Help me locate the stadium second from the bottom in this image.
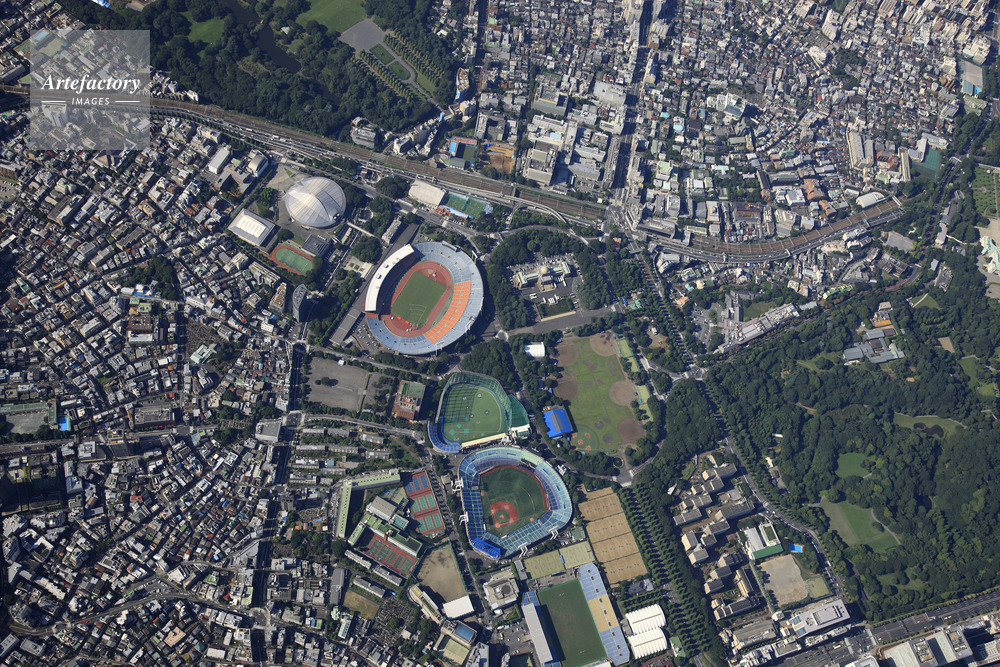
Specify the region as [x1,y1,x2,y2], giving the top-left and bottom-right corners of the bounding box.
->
[460,445,573,559]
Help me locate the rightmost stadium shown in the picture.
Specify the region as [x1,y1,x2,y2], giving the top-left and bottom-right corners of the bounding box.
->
[521,563,626,667]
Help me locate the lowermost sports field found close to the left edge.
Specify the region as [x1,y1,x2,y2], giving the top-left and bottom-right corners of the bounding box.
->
[4,413,47,433]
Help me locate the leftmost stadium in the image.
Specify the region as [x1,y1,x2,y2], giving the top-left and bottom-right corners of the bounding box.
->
[365,238,483,357]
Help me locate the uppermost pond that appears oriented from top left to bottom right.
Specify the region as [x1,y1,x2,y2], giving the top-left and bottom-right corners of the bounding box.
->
[221,0,301,71]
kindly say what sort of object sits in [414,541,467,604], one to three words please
sports field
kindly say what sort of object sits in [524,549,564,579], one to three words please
sports court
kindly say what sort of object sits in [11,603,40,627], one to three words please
building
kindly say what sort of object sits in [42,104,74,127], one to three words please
building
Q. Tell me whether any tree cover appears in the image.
Yes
